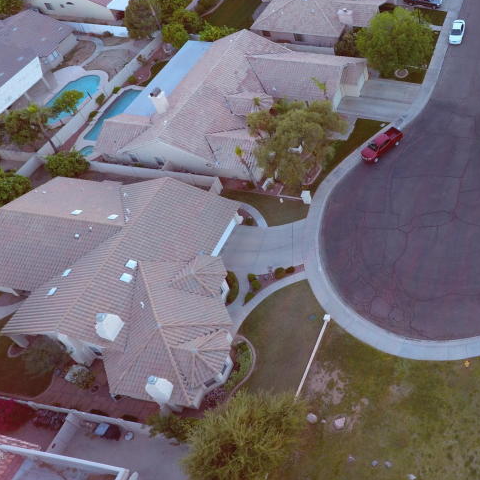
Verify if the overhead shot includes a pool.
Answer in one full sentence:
Yes, a pool can be made out from above.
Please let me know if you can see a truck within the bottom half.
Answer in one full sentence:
No, I can find no truck within the bottom half.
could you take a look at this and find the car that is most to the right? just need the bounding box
[449,20,464,42]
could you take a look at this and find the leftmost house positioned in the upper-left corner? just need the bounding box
[0,9,79,114]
